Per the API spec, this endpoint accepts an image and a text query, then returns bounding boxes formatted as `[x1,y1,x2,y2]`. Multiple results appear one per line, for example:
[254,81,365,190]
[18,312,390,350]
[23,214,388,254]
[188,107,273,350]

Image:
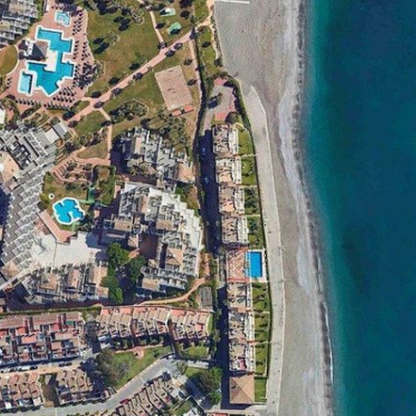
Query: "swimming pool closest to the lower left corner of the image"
[53,198,84,224]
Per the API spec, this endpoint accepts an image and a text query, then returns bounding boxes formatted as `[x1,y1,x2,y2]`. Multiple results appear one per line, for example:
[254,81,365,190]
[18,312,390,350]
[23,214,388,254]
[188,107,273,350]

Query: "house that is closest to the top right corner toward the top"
[213,125,239,154]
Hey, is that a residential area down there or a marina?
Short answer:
residential area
